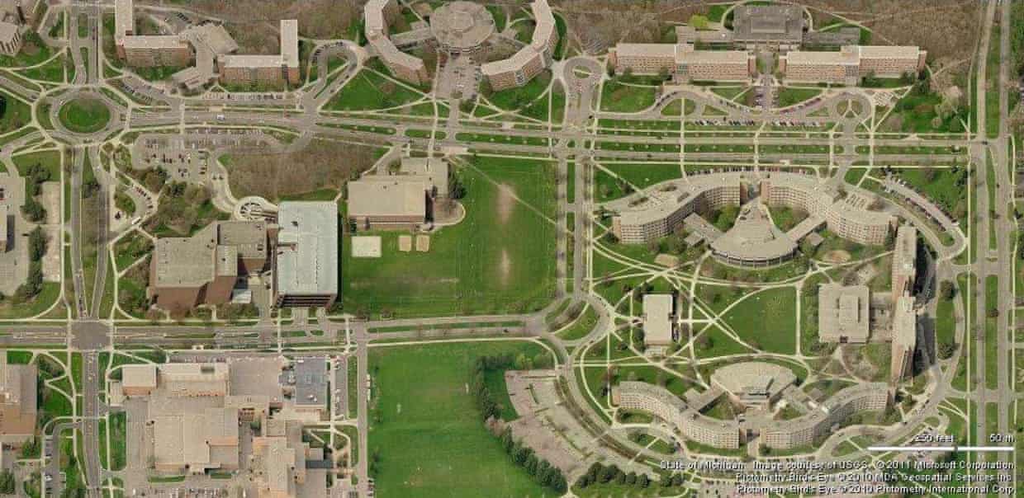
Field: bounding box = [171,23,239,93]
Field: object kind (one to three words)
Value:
building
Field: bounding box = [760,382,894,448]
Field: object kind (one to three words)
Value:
building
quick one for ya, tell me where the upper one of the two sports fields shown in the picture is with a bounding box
[341,158,557,318]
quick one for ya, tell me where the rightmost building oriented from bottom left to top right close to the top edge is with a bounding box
[481,0,556,90]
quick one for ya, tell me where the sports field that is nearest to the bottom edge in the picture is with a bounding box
[368,340,565,498]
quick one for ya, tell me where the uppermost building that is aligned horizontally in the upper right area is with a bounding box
[675,5,860,53]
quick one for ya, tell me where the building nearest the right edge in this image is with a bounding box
[891,227,928,387]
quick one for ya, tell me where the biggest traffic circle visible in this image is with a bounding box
[49,91,119,140]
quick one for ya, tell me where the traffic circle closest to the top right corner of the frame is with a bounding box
[829,93,870,122]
